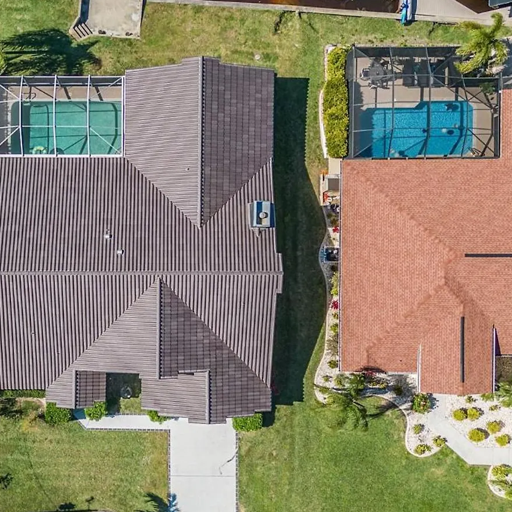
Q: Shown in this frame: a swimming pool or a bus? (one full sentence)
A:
Looking from above, you can make out a swimming pool.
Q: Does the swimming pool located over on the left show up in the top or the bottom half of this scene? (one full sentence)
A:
The swimming pool located over on the left is in the top half of the image.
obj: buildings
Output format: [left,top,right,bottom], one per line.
[336,88,512,442]
[0,56,284,424]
